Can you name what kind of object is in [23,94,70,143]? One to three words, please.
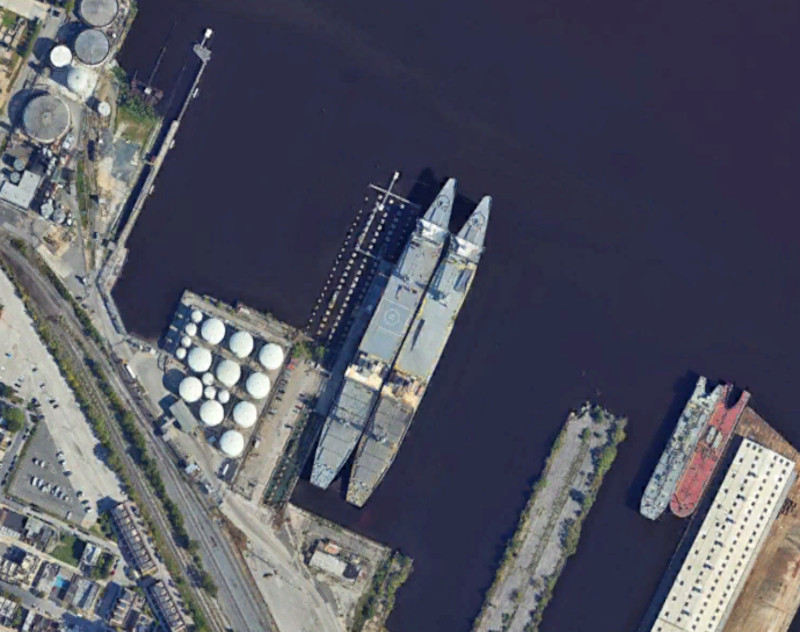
storage tank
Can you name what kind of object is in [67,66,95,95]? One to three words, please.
storage tank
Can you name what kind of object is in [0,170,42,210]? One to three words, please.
building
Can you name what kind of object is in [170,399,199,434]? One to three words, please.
shed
